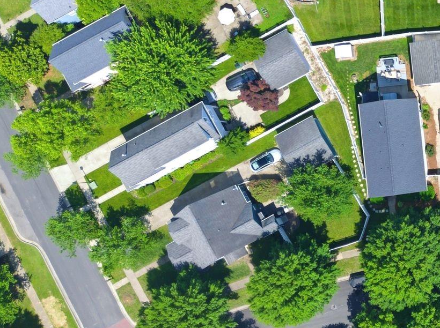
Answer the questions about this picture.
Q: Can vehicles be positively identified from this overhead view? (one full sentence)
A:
Yes, there is a vehicle in the image.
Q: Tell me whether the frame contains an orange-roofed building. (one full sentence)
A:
No, the photo shows no orange-roofed building.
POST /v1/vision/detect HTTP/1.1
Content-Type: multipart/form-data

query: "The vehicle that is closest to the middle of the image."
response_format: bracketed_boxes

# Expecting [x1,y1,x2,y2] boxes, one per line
[250,147,282,173]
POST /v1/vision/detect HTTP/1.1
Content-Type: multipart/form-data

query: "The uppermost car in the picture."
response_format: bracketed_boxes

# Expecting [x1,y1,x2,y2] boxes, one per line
[224,69,260,90]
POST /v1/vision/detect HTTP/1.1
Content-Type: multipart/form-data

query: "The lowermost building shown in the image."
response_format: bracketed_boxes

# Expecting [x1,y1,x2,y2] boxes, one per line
[165,184,283,268]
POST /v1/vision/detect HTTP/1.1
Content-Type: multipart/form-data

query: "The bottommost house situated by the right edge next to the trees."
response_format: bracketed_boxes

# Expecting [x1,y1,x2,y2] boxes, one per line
[357,90,428,197]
